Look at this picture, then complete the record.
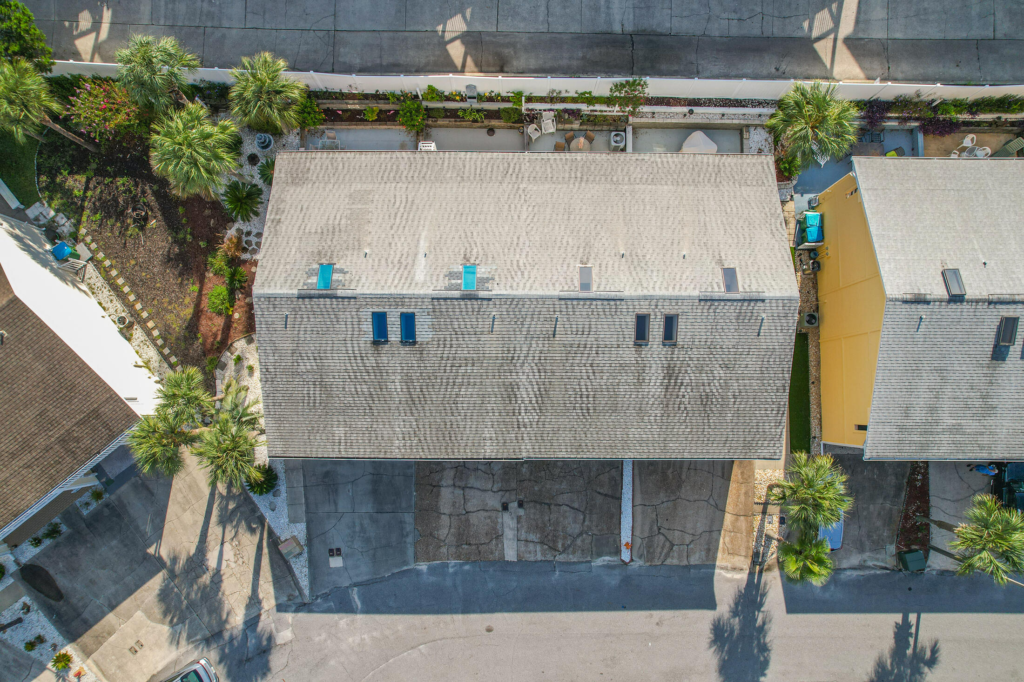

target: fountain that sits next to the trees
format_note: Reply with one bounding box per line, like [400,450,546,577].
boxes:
[253,129,273,149]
